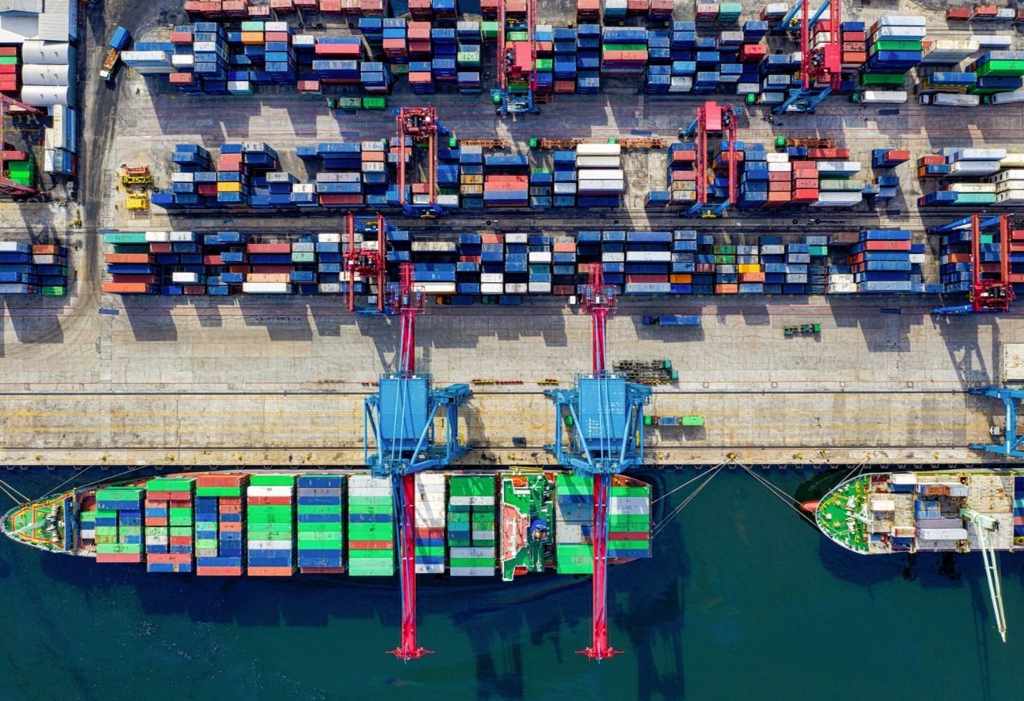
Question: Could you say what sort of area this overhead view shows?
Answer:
port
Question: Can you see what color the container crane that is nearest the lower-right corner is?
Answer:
blue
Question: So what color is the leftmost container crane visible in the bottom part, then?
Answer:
blue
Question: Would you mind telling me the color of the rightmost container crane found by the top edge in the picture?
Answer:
red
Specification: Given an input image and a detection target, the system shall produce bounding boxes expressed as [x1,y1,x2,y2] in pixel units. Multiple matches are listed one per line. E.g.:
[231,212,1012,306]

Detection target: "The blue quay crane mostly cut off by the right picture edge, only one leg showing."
[969,390,1024,460]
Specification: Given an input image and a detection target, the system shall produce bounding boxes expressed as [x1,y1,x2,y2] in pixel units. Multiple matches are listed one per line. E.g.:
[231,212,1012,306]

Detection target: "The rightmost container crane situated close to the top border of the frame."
[768,0,844,114]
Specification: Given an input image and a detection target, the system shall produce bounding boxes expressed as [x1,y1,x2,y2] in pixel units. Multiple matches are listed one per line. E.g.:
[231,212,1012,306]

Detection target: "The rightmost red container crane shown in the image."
[923,214,1017,321]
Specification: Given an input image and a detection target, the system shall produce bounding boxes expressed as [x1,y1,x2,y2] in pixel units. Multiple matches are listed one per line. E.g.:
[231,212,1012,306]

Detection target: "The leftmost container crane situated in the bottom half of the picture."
[364,263,478,665]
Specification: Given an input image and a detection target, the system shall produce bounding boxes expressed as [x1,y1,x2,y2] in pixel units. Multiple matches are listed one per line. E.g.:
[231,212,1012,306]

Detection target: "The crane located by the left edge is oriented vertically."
[0,90,51,201]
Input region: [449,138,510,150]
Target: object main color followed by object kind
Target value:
green vehicle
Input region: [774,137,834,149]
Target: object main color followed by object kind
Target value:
green vehicle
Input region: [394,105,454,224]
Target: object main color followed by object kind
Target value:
red container crane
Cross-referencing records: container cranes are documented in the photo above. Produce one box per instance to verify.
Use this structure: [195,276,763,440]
[0,90,51,201]
[923,214,1017,321]
[768,0,844,114]
[673,99,741,225]
[969,390,1024,460]
[394,105,454,224]
[364,263,478,665]
[533,263,648,665]
[490,0,542,113]
[341,214,405,319]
